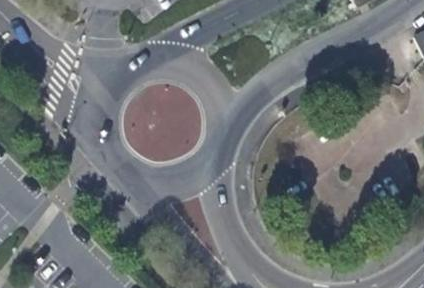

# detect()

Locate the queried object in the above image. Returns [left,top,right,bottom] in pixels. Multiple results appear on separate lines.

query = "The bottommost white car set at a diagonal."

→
[39,262,58,282]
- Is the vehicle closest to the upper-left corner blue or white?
blue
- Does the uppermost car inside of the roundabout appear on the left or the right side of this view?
left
